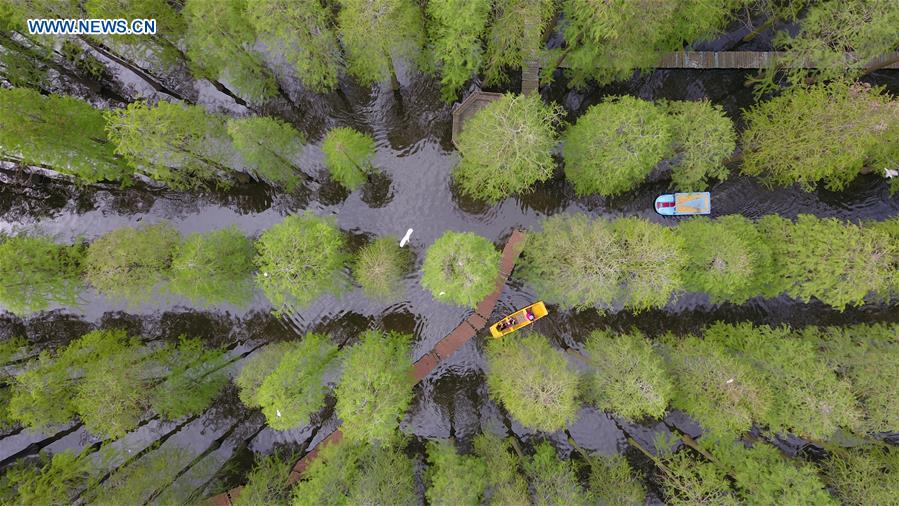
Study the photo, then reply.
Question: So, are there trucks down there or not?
No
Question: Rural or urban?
rural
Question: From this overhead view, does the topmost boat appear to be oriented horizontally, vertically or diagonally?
horizontally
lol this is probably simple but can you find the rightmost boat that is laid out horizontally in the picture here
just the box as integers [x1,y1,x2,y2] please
[654,192,711,216]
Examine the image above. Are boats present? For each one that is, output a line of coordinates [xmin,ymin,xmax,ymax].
[490,301,549,338]
[654,192,711,216]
